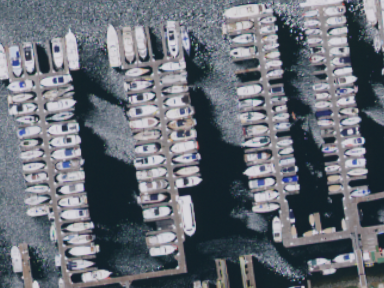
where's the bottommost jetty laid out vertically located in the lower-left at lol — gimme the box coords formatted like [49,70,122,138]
[18,243,31,288]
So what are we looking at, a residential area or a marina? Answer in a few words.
marina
